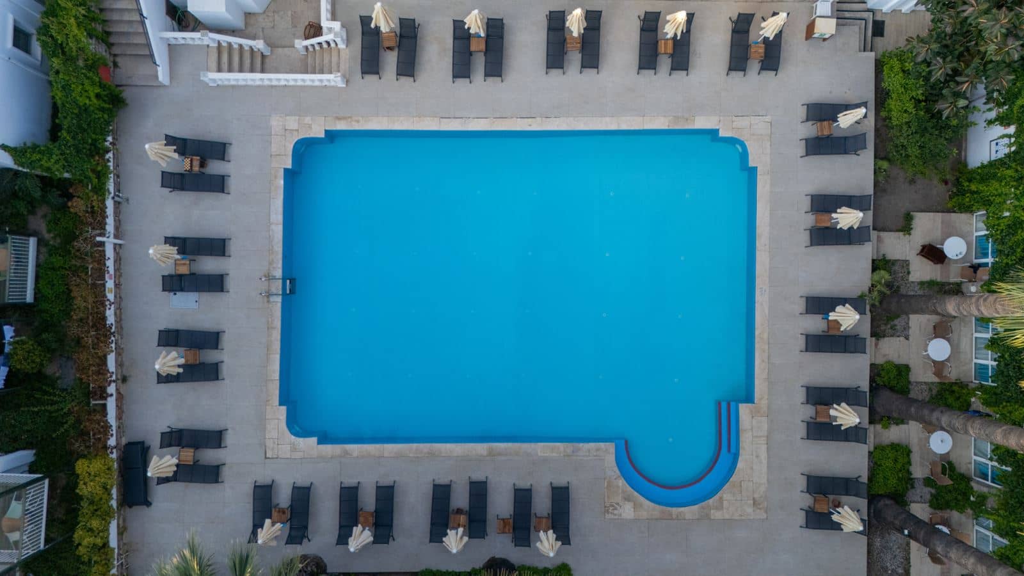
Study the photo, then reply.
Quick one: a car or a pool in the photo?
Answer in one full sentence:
This aerial view contains a pool.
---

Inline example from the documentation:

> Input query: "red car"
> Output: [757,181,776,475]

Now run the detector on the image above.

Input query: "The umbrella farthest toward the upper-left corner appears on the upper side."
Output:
[145,143,182,164]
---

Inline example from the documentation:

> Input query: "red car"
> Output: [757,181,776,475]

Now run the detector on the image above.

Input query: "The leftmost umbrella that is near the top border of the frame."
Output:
[375,2,399,33]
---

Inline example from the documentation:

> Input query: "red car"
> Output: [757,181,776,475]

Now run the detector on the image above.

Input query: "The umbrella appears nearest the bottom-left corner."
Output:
[148,455,180,477]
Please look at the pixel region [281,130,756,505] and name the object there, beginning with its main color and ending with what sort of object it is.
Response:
blue swimming pool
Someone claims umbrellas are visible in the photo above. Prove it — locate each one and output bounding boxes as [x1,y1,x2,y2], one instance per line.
[467,10,488,40]
[349,523,371,551]
[375,2,399,33]
[150,241,186,264]
[156,353,191,375]
[827,503,862,531]
[148,455,180,477]
[258,517,287,543]
[565,9,587,40]
[445,521,469,552]
[826,209,862,231]
[831,108,865,131]
[824,305,860,329]
[662,11,686,41]
[145,143,182,164]
[757,14,786,44]
[539,529,560,556]
[825,405,859,426]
